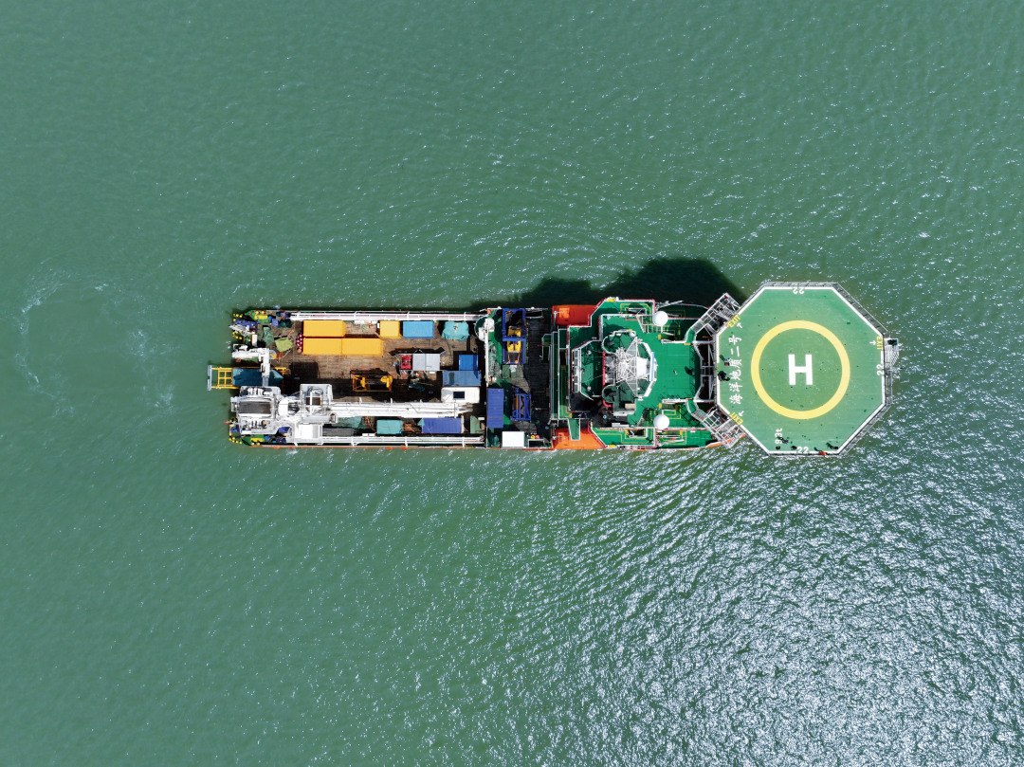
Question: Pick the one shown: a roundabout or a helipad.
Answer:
helipad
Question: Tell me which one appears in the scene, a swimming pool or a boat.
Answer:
boat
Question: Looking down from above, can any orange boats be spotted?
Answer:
Yes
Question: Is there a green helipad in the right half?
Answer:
Yes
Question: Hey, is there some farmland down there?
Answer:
No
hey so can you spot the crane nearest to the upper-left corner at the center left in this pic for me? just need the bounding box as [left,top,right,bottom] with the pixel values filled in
[232,345,276,386]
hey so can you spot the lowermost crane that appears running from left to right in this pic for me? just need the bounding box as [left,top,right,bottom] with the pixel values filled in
[231,379,473,444]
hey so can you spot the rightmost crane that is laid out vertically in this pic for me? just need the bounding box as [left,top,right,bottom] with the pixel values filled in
[473,319,496,387]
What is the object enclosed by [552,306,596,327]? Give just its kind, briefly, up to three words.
boat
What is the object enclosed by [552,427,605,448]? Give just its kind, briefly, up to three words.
boat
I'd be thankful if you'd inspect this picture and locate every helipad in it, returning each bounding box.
[695,279,904,460]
